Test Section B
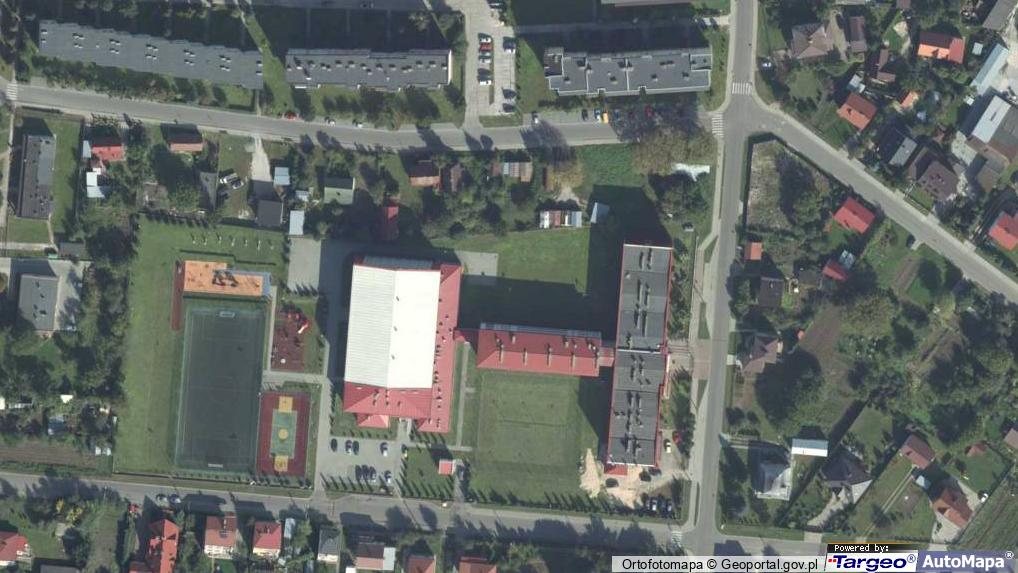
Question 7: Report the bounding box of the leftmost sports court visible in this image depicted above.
[183,261,270,297]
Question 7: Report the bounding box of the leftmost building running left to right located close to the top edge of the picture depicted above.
[39,20,265,93]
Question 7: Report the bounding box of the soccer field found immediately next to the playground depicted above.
[175,300,267,473]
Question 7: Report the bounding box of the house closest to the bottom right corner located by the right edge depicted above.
[933,486,973,529]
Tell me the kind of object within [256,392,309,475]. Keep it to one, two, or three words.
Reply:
basketball court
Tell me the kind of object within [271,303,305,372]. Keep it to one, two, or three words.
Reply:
playground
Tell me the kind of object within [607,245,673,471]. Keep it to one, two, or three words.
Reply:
building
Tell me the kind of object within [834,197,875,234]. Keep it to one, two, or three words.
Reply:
house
